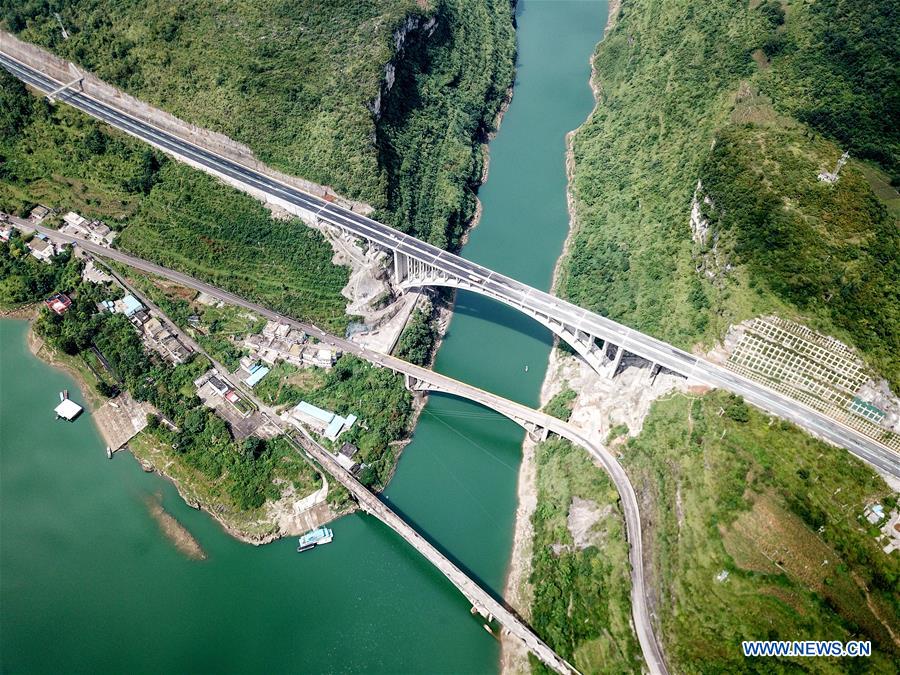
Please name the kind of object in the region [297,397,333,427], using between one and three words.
house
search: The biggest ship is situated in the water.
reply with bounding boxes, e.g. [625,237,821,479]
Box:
[299,529,332,548]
